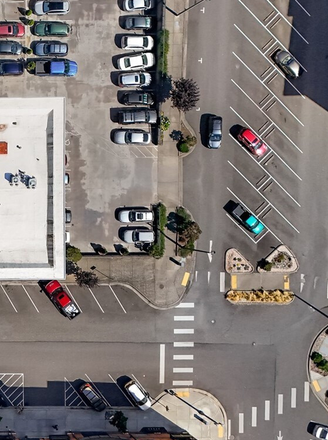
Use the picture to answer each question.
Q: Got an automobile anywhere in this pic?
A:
Yes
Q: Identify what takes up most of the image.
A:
paved ground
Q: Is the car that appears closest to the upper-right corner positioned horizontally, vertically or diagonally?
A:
diagonally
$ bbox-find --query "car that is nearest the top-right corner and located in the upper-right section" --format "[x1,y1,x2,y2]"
[269,48,302,79]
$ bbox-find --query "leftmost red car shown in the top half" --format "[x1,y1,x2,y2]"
[0,21,25,38]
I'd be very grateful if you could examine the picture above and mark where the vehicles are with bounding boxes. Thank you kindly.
[66,231,71,244]
[205,114,223,148]
[117,108,158,125]
[112,129,150,145]
[115,53,153,70]
[269,48,302,79]
[122,90,154,106]
[45,280,77,320]
[120,14,152,31]
[33,0,69,16]
[34,59,75,76]
[0,61,23,77]
[33,20,69,37]
[122,375,151,409]
[120,0,154,13]
[32,40,68,56]
[236,126,268,159]
[0,21,25,38]
[66,209,72,224]
[116,208,153,224]
[76,378,107,412]
[117,72,151,87]
[227,200,263,237]
[120,34,153,51]
[121,227,156,244]
[0,39,22,56]
[309,424,328,440]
